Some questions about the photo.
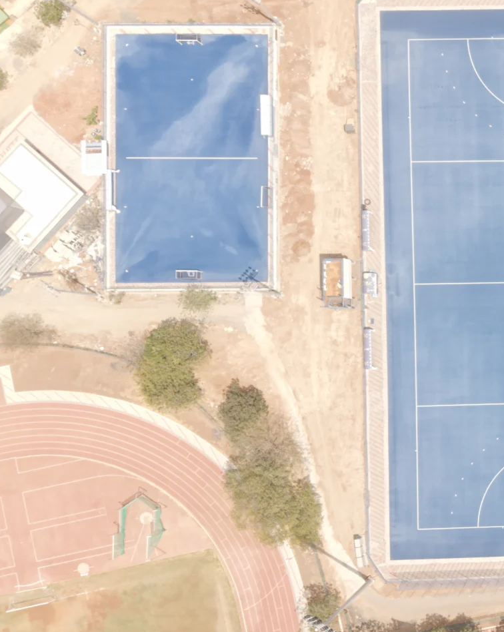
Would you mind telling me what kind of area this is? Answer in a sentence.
It's a sports ground.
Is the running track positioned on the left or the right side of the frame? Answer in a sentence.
The running track is on the left side of the image.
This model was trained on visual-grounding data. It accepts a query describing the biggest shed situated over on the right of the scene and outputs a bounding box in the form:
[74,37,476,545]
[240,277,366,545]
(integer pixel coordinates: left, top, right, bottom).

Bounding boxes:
[317,257,352,309]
